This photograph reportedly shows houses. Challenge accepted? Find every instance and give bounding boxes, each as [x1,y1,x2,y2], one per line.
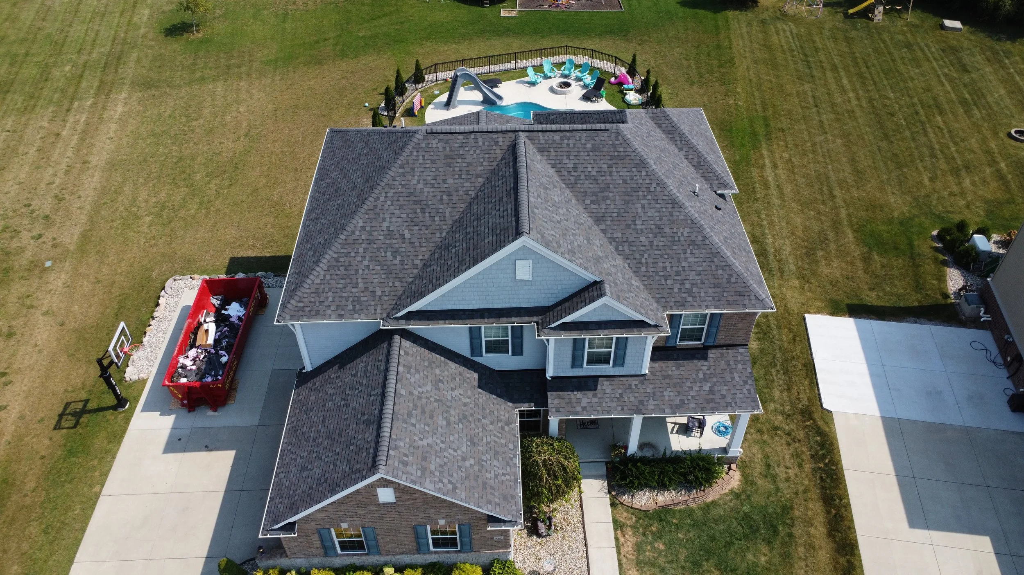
[981,217,1024,390]
[257,106,776,575]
